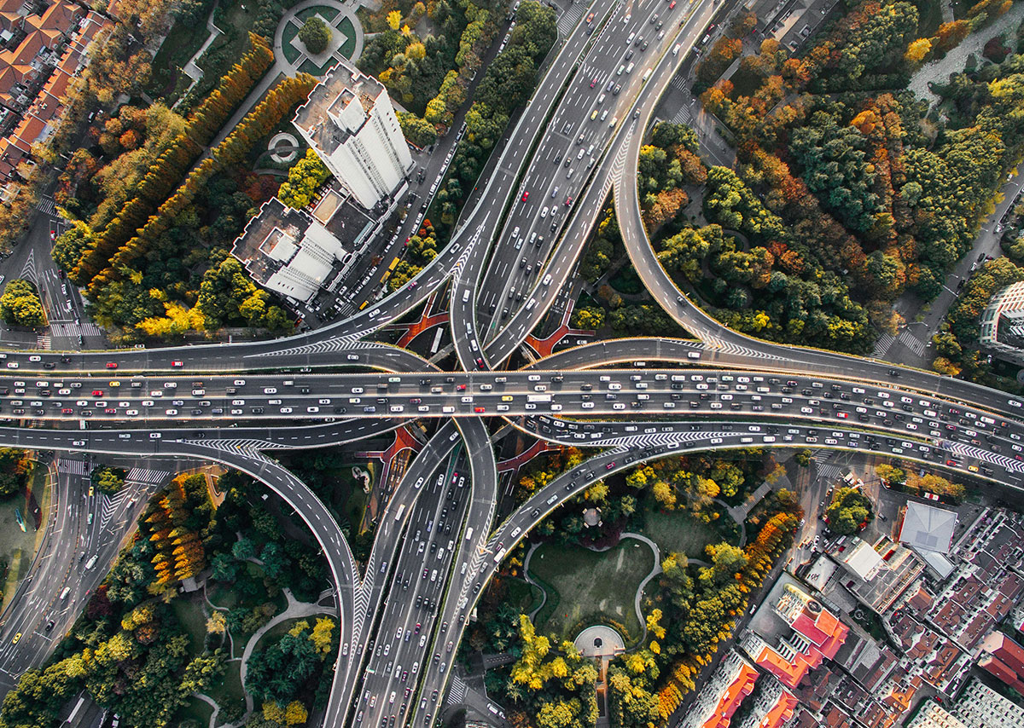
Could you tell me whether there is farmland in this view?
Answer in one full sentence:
No, there's no farmland in this view.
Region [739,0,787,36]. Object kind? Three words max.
building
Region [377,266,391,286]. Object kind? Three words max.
vehicle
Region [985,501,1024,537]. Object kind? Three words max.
house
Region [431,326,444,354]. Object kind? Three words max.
vehicle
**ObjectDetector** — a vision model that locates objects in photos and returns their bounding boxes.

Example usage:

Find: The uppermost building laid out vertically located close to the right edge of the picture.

[983,281,1024,376]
